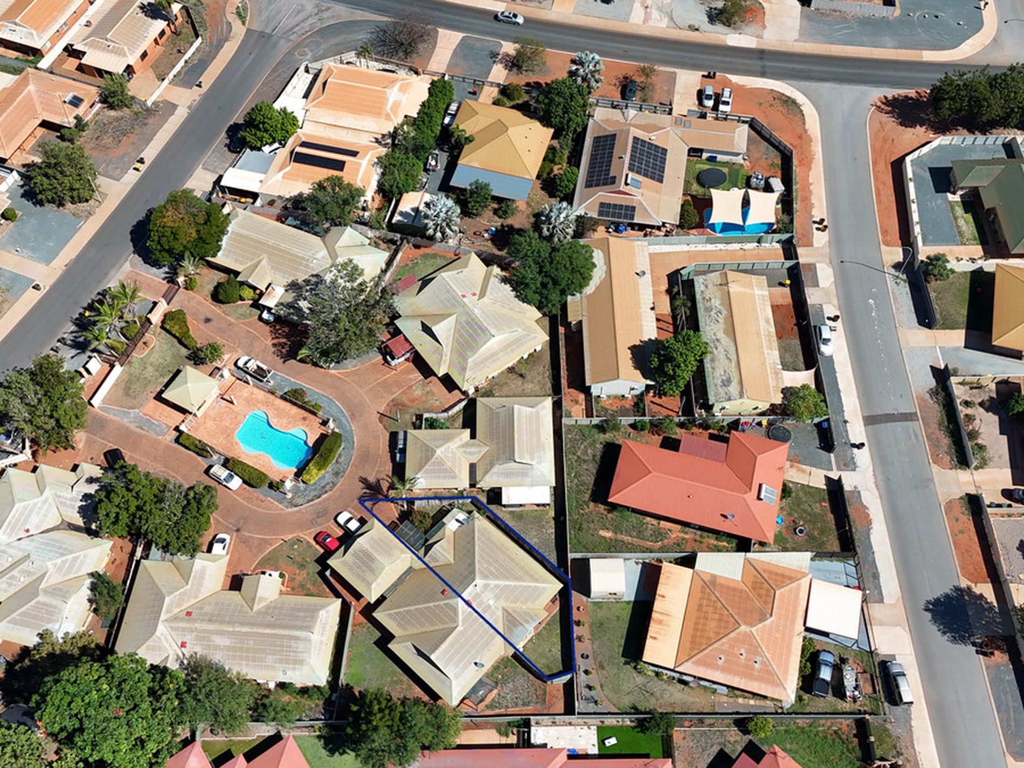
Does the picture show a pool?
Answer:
Yes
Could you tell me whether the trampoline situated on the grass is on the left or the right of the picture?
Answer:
right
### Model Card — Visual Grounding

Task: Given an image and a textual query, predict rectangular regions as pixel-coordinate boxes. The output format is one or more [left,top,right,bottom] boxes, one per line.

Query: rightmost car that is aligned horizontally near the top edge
[495,11,524,27]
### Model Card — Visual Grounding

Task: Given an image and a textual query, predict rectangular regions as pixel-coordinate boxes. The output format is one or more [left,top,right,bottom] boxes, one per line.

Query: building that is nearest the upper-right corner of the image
[949,159,1024,261]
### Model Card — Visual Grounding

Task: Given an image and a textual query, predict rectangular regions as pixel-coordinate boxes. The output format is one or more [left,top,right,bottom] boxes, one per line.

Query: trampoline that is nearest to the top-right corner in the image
[699,166,727,187]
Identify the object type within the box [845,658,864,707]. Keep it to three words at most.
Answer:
boat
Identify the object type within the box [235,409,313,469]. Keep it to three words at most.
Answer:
swimming pool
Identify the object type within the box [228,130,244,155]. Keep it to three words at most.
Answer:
car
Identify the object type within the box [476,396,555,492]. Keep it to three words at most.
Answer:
house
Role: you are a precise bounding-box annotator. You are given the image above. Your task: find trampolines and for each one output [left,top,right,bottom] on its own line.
[699,166,727,187]
[767,423,792,443]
